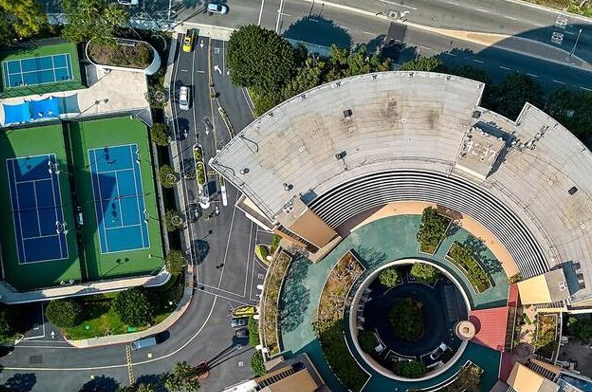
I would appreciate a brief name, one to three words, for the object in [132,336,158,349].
vehicle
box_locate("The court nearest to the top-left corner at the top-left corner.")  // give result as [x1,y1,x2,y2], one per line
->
[0,41,83,93]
